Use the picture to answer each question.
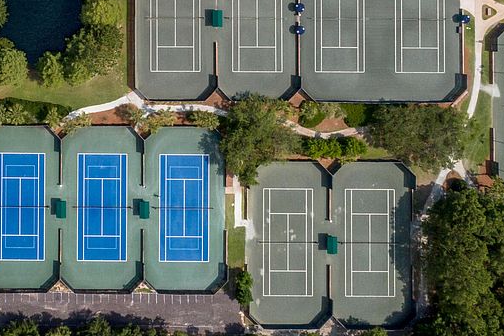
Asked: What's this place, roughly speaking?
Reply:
sports ground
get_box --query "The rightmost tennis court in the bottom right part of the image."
[334,164,413,328]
